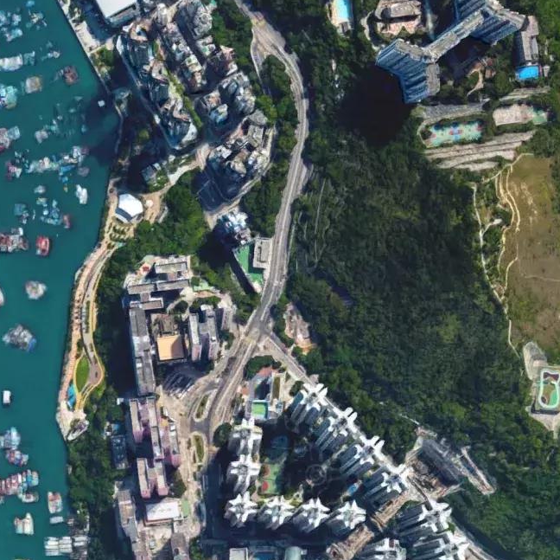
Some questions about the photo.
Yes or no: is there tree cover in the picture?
Yes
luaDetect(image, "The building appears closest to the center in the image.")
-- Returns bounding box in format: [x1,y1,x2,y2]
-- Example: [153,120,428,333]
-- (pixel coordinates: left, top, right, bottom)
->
[251,237,274,274]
